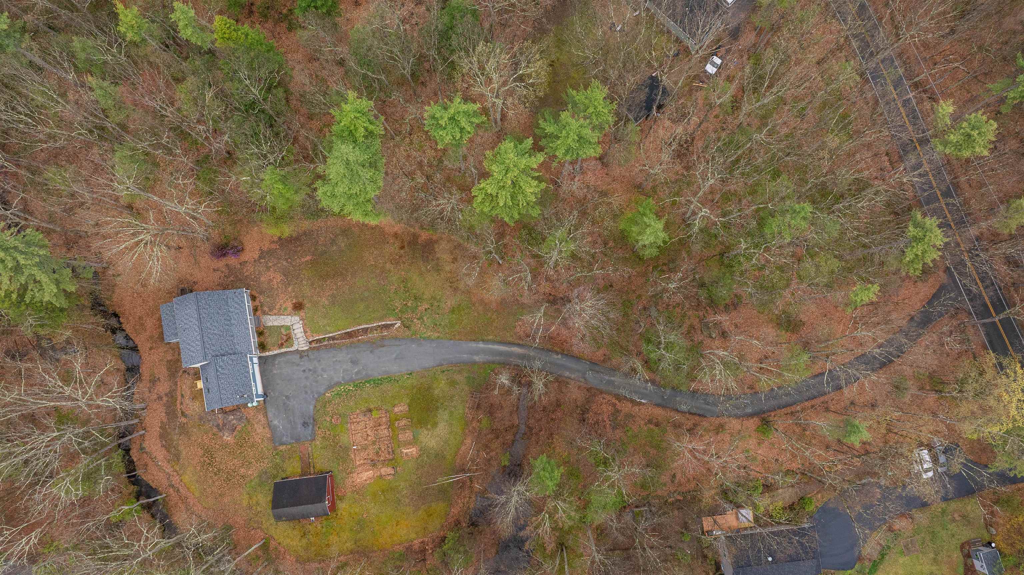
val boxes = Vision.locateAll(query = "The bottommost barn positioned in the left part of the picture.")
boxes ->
[270,468,336,523]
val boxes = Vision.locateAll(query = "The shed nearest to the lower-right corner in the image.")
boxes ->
[970,546,1006,575]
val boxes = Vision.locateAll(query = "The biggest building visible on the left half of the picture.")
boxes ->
[160,288,263,410]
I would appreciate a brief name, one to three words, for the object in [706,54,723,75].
car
